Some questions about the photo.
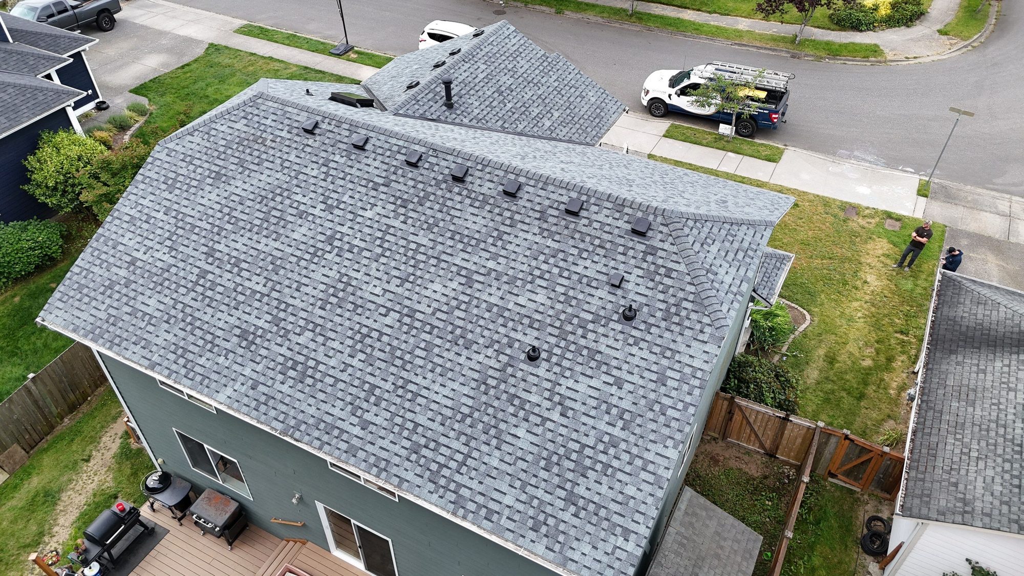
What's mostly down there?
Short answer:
buildings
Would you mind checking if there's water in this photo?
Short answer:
No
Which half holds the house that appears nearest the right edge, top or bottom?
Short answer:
bottom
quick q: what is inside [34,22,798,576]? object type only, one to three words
house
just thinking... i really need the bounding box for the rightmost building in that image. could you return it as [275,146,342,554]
[881,269,1024,576]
